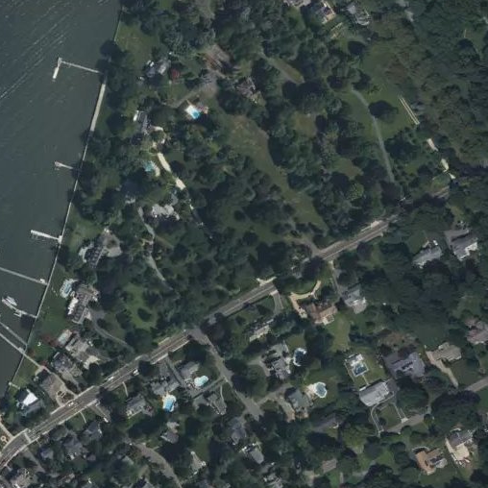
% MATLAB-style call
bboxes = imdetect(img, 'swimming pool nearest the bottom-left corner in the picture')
[162,396,176,412]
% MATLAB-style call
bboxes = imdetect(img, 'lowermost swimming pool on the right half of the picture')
[313,382,327,399]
